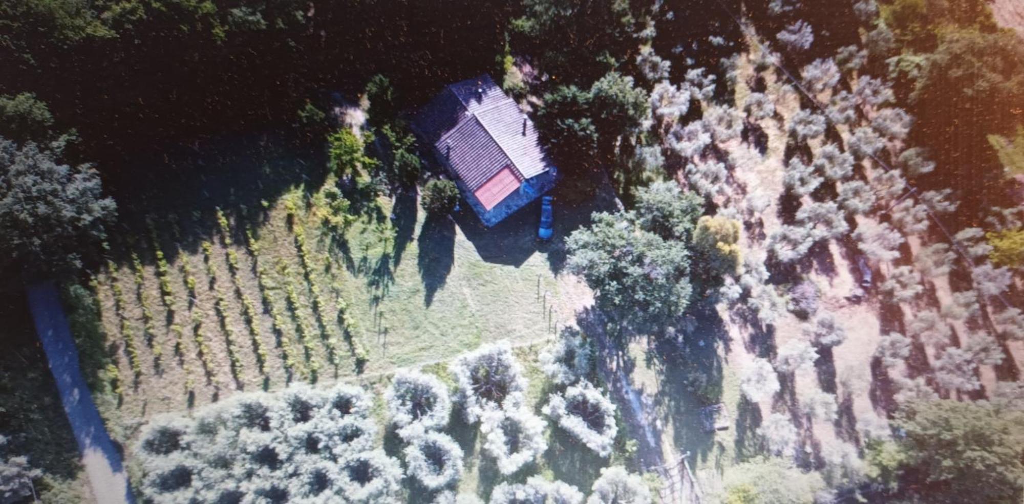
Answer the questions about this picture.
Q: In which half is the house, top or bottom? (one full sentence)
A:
The house is in the top half of the image.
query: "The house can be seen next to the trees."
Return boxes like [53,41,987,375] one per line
[411,70,565,227]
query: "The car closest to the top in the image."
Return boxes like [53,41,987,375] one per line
[536,198,555,241]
